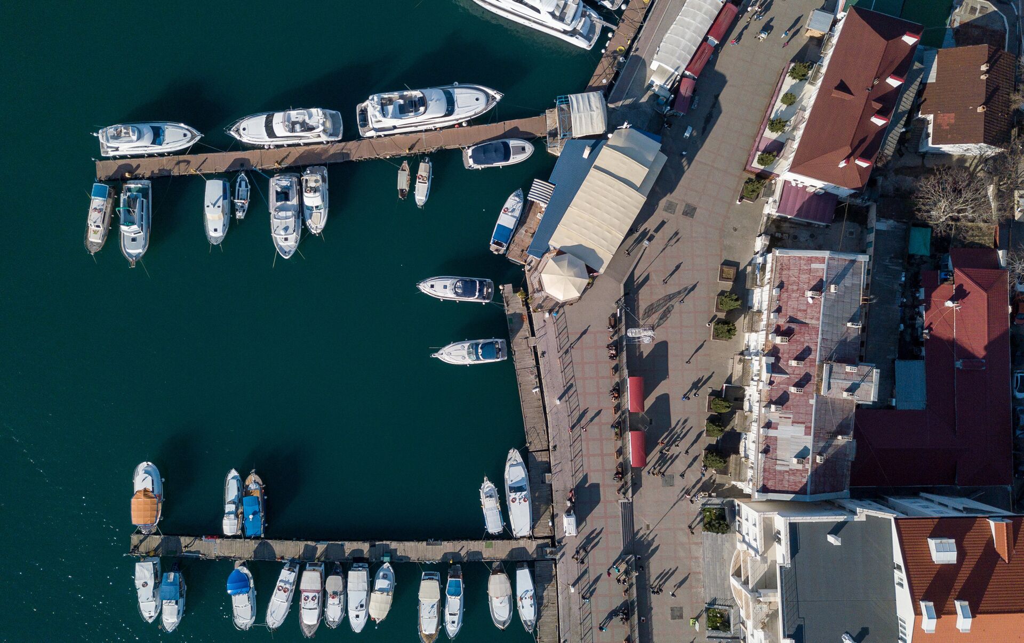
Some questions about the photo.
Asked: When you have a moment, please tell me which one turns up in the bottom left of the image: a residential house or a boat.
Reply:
boat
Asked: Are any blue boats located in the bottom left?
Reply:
Yes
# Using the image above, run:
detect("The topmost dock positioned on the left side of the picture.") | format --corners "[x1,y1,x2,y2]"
[96,115,547,180]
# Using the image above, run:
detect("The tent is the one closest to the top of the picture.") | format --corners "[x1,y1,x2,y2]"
[648,0,726,92]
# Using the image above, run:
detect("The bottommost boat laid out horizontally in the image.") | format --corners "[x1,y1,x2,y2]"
[427,338,509,367]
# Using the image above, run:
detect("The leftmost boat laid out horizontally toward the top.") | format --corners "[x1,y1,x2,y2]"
[98,122,225,160]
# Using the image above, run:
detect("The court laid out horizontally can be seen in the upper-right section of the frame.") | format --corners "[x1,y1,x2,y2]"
[832,0,955,49]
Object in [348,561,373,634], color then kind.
white boat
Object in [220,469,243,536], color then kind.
white boat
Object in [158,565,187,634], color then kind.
blue boat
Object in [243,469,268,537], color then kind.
blue boat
